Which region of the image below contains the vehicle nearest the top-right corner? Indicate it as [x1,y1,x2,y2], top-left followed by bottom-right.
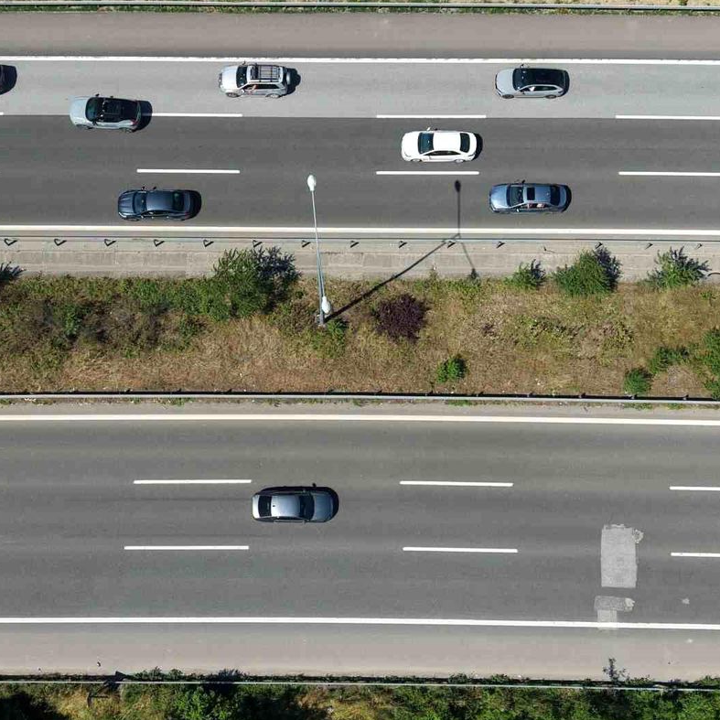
[495,59,568,98]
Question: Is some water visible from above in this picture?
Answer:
No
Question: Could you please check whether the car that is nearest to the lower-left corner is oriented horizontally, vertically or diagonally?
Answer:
horizontally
